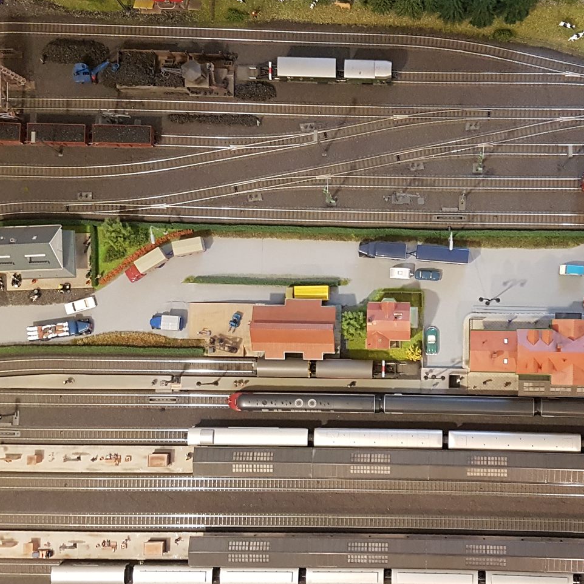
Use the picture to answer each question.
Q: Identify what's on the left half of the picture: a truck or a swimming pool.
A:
truck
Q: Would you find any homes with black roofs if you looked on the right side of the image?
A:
No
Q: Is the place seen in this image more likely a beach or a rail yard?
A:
rail yard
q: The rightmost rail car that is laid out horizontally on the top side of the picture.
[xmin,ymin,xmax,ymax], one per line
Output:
[343,55,396,83]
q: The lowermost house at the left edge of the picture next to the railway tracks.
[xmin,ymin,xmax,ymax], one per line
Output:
[0,223,82,279]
